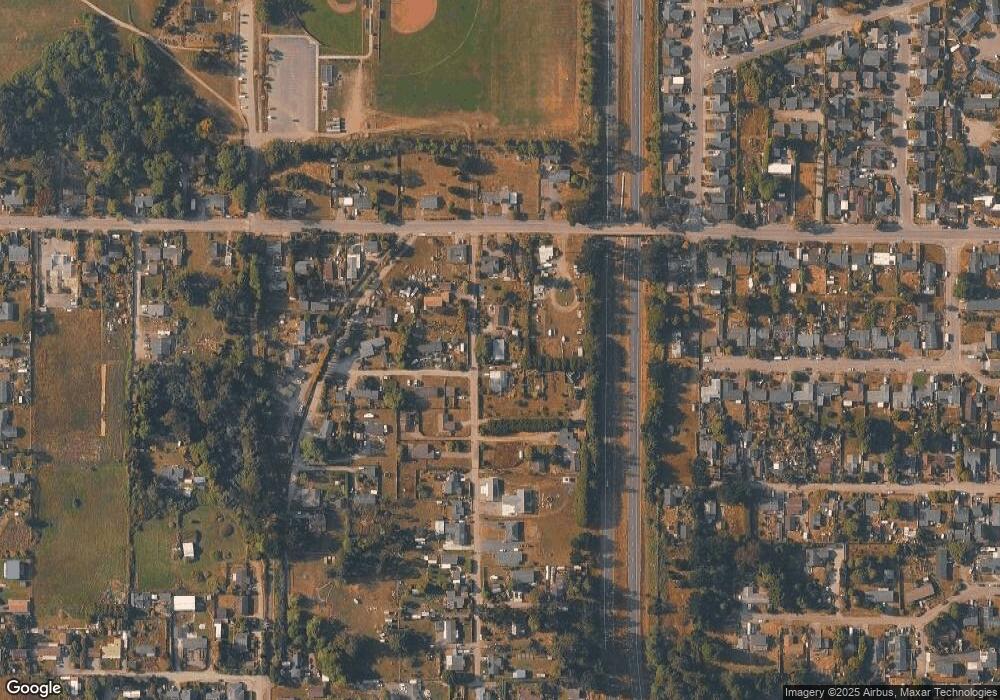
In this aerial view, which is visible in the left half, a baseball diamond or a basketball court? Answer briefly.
baseball diamond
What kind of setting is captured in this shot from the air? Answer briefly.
residential area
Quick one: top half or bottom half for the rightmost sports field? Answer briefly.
top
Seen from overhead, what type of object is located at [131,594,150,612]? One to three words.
house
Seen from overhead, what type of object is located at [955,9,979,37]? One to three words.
house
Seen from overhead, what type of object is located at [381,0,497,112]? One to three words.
baseball field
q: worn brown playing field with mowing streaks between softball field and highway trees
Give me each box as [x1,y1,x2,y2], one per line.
[501,0,575,128]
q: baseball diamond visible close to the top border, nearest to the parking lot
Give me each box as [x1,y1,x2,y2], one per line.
[301,0,367,54]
